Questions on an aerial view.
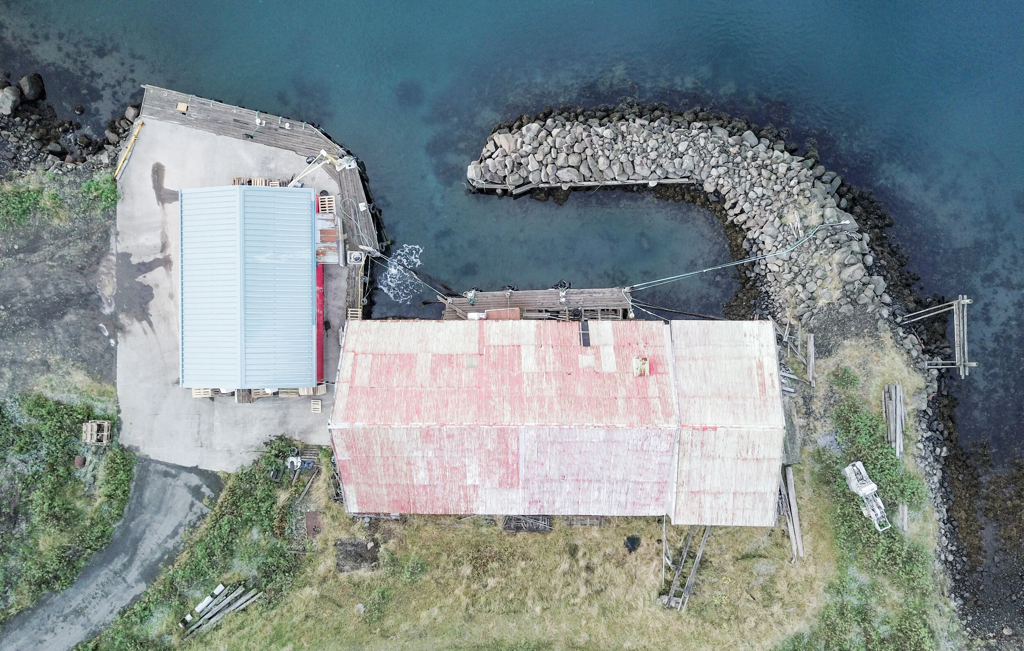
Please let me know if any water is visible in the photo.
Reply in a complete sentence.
Yes, there's water in this view.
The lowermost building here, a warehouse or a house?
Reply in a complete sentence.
What you see as the lowermost building is a warehouse.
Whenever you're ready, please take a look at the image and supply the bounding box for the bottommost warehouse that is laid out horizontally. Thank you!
[328,307,804,527]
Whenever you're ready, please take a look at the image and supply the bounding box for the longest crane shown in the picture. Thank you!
[286,146,342,187]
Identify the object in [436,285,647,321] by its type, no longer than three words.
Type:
pier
